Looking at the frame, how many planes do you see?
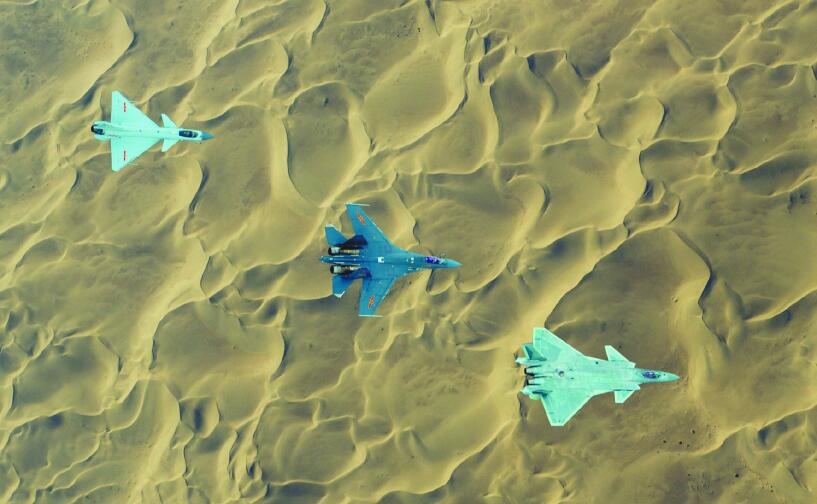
3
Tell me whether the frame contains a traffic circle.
No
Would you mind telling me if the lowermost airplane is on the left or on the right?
right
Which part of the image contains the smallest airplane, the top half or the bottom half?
top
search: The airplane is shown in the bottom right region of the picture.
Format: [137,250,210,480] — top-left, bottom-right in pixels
[515,328,678,425]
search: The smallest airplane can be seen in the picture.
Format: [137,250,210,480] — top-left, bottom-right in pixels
[89,93,219,169]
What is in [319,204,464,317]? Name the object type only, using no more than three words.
airplane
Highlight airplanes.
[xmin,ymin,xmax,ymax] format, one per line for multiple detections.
[89,93,219,169]
[319,204,464,317]
[515,328,678,425]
